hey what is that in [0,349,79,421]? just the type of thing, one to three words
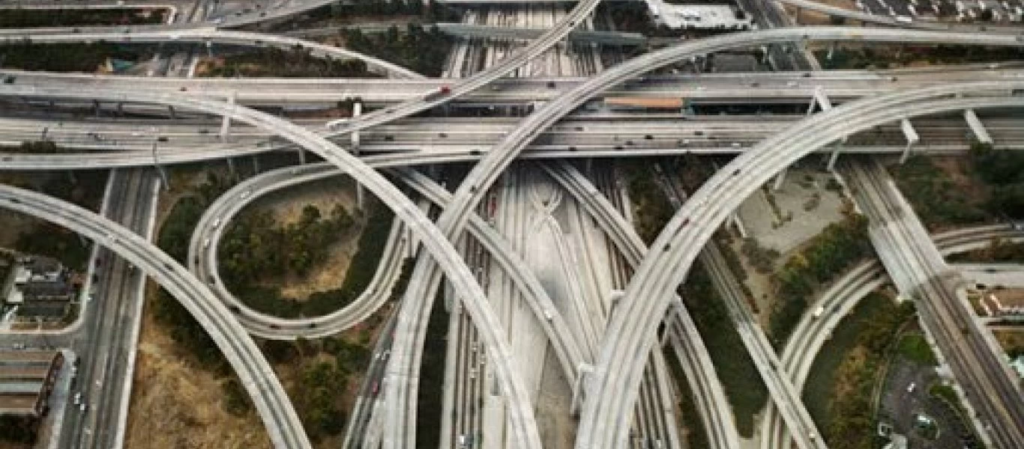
building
